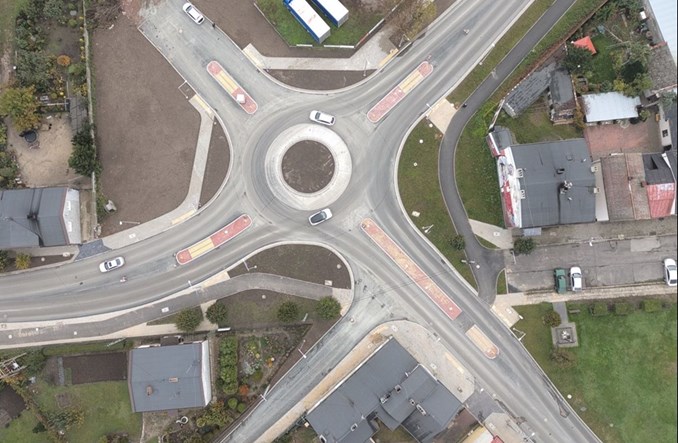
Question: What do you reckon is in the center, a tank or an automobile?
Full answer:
It is an automobile that can be seen in the center.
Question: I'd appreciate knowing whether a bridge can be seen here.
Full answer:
No, no bridge can be seen from above.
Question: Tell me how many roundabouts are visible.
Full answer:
The picture shows just 1 roundabout.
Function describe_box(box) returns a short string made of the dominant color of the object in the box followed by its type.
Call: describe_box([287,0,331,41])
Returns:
white trailer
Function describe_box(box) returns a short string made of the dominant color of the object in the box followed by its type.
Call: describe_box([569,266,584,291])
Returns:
white car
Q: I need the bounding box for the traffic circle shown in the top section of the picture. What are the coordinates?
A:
[265,123,351,210]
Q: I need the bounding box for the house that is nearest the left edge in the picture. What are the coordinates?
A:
[0,190,42,249]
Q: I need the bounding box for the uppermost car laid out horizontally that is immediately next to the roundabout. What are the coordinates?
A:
[309,109,336,125]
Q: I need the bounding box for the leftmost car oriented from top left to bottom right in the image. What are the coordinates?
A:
[179,0,205,24]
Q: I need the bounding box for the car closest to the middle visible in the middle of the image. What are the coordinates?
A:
[308,209,332,225]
